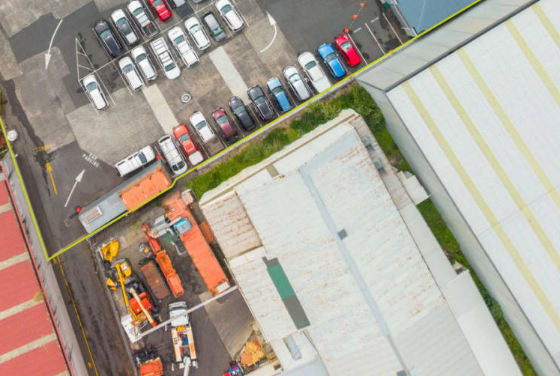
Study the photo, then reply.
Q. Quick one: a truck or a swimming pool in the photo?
truck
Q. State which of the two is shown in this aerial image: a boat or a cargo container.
cargo container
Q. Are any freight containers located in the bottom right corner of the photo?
No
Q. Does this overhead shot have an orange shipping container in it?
Yes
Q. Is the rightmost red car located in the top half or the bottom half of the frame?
top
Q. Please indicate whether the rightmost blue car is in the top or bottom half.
top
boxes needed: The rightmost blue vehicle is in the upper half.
[319,42,346,80]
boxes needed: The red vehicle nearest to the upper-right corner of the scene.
[334,30,362,69]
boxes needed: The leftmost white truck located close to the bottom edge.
[168,300,200,376]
